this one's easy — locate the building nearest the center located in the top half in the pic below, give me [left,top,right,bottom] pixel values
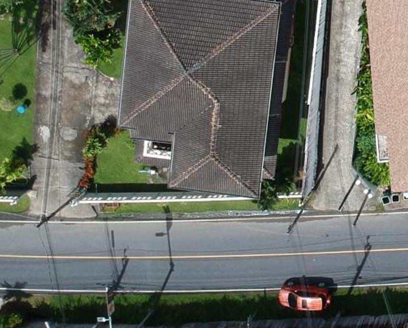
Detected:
[117,0,296,198]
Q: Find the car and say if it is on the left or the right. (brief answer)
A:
right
